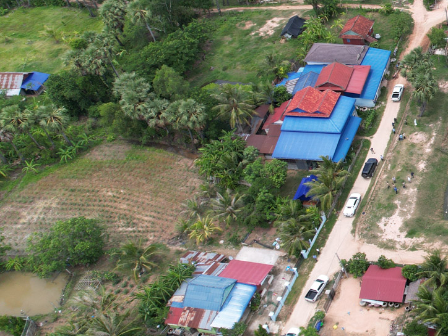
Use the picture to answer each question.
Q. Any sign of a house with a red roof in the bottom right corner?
Yes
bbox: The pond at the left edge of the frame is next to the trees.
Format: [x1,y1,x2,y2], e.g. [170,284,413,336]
[0,272,67,317]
